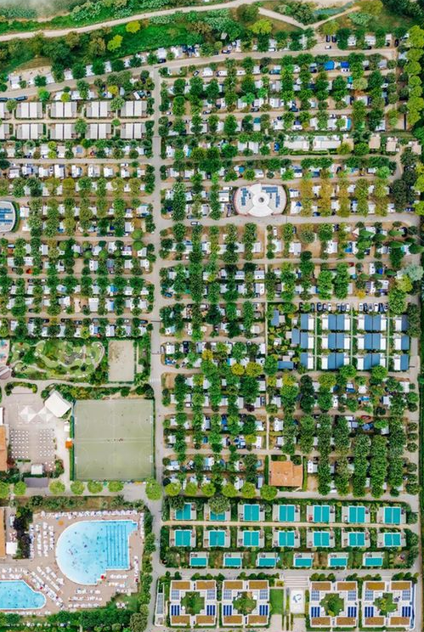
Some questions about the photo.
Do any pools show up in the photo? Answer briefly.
Yes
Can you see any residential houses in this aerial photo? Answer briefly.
Yes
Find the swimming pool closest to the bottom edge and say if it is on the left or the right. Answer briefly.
left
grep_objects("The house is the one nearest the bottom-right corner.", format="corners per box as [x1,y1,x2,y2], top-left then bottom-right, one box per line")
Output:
[360,581,411,627]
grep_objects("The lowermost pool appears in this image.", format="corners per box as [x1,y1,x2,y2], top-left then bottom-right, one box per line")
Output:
[0,579,47,610]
